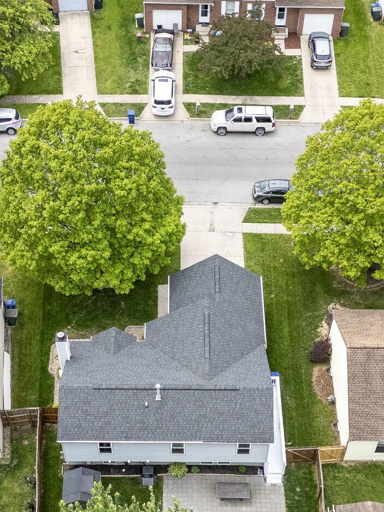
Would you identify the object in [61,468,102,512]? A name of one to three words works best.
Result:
shed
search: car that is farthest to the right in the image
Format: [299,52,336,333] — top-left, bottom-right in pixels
[308,33,334,67]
